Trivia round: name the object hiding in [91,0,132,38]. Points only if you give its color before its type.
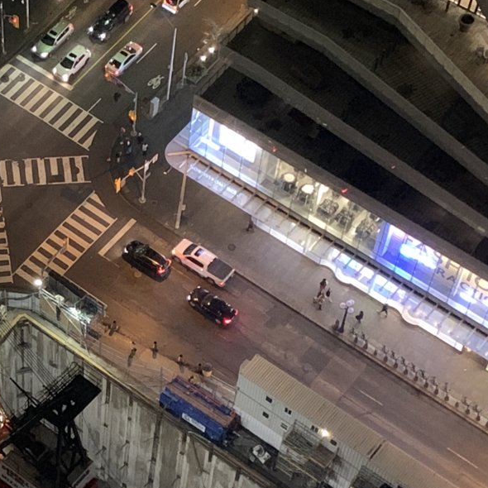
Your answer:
black car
